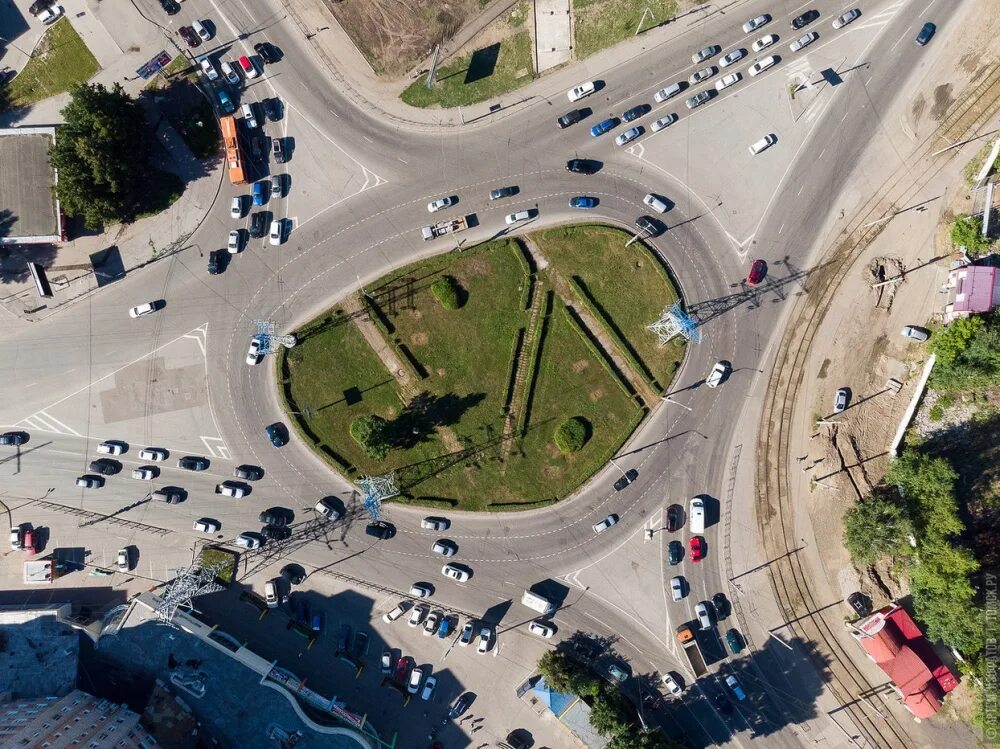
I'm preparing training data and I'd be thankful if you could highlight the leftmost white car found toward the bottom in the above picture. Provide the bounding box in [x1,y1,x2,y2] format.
[6,523,23,554]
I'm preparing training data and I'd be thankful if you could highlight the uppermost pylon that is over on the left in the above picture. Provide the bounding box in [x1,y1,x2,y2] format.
[250,315,297,357]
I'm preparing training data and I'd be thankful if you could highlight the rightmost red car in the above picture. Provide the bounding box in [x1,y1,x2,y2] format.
[748,260,766,284]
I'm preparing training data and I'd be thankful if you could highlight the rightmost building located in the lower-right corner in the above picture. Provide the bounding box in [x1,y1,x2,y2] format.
[842,587,961,716]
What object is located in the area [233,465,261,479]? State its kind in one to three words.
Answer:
car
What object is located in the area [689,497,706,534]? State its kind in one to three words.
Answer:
vehicle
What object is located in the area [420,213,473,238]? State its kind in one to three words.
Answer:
truck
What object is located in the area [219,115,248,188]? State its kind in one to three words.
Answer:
bus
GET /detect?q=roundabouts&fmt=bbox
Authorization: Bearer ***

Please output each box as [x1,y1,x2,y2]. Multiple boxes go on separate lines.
[205,146,752,578]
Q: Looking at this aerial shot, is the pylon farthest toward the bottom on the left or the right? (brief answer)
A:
left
